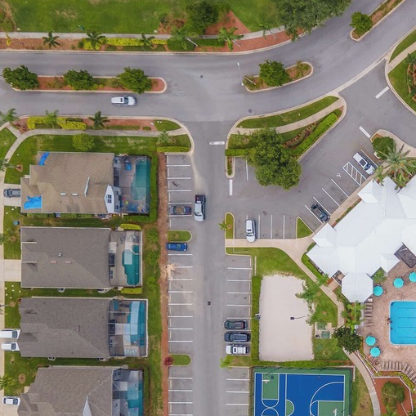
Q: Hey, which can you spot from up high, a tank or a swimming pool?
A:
swimming pool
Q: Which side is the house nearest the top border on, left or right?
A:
left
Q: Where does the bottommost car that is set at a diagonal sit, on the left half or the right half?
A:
right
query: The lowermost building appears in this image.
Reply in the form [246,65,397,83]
[17,367,120,416]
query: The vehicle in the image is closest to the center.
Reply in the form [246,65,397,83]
[193,194,205,222]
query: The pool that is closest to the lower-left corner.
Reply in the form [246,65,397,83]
[126,380,142,416]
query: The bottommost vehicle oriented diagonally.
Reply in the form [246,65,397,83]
[309,201,331,224]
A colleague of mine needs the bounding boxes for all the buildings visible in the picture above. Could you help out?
[307,174,416,303]
[18,226,117,288]
[16,297,117,358]
[20,151,120,214]
[17,367,120,416]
